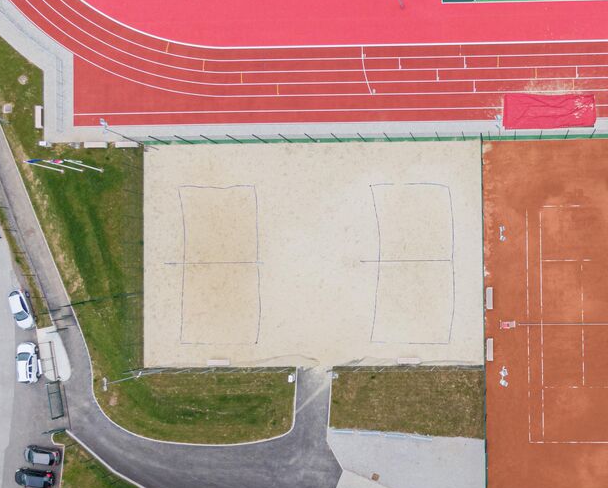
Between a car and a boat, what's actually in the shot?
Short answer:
car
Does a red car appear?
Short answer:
No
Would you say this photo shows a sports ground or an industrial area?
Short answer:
sports ground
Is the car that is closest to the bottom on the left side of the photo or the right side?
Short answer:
left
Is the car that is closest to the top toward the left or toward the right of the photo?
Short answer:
left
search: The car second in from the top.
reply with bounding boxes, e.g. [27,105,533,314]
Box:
[13,342,40,383]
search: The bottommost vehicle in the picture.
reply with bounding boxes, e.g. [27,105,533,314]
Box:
[15,468,56,488]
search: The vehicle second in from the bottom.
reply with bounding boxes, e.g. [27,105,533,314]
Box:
[24,446,61,466]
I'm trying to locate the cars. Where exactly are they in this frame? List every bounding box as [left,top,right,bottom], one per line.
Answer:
[13,342,40,383]
[6,290,36,331]
[15,468,56,488]
[24,446,61,466]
